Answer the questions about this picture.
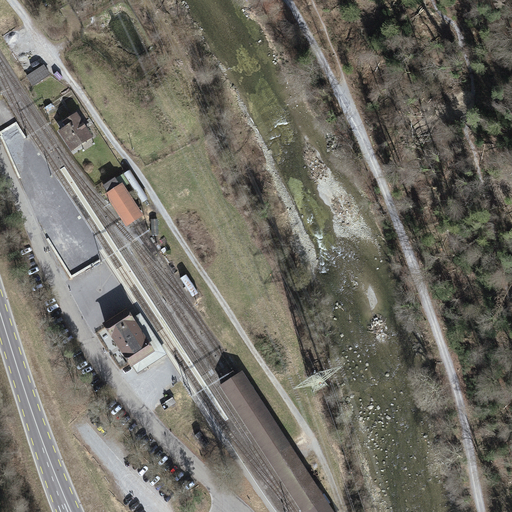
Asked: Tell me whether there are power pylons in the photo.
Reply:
Yes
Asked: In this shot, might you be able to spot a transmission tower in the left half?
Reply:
No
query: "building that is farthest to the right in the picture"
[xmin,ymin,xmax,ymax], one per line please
[220,370,337,512]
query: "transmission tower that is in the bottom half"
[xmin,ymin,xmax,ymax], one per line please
[296,366,345,391]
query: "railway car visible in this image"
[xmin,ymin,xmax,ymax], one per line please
[181,274,198,296]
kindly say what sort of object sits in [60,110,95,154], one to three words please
house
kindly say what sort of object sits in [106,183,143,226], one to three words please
shed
